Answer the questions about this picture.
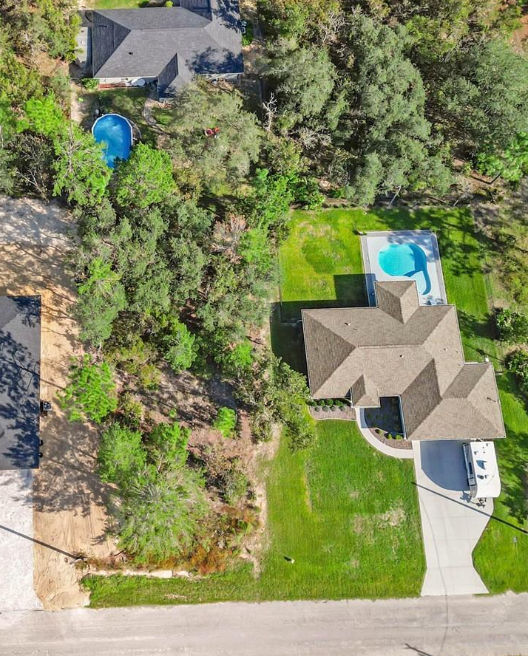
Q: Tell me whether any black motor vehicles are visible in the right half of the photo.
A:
No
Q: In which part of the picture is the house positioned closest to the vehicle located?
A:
right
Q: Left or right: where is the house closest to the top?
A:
left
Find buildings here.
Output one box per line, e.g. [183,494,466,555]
[302,281,501,440]
[0,296,40,469]
[91,0,244,104]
